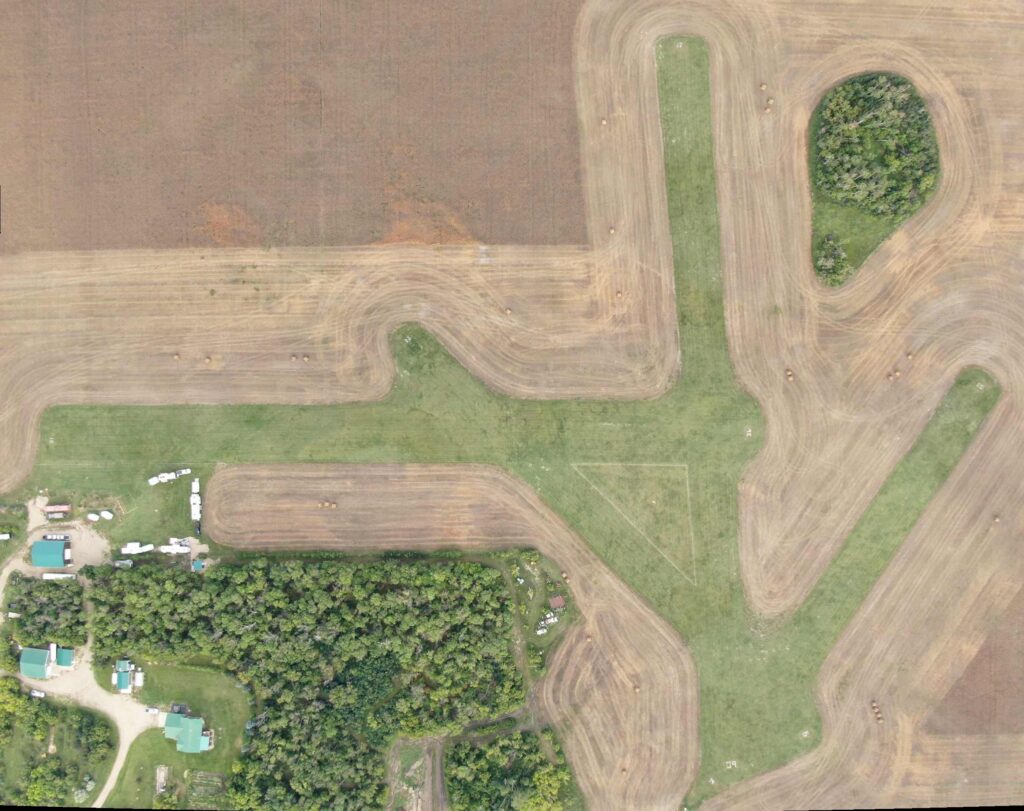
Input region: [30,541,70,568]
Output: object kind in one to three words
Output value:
building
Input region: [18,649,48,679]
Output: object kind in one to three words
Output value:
barn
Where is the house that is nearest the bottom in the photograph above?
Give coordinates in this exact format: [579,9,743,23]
[165,704,210,754]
